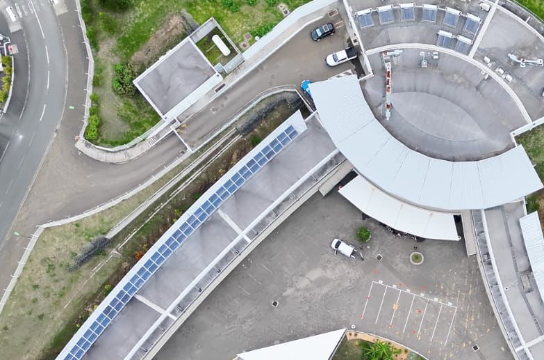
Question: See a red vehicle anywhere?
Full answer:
No, there's no red vehicle here.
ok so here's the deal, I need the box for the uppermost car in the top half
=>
[311,22,337,44]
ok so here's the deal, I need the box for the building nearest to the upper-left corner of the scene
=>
[135,37,224,123]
